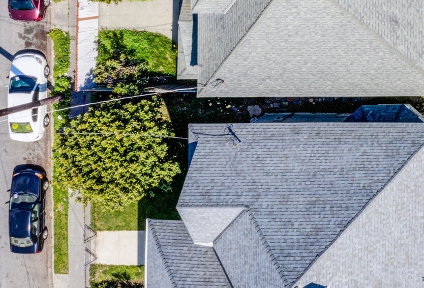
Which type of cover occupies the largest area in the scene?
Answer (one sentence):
Most of the picture is covered by buildings.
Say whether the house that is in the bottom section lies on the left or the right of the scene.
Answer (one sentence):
The house that is in the bottom section sits on the right side.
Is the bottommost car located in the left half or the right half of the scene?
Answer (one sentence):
The bottommost car sits on the left side.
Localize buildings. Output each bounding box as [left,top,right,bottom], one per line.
[143,101,424,288]
[171,0,424,98]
